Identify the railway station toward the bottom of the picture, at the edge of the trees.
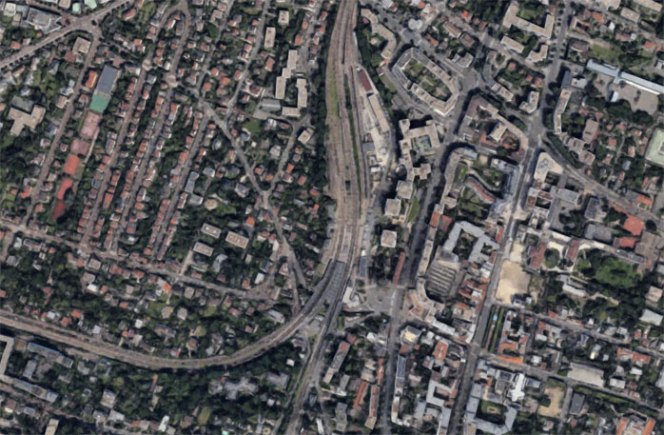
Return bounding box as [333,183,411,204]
[303,222,364,321]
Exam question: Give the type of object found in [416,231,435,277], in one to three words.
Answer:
building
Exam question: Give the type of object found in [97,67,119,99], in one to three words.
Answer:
building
